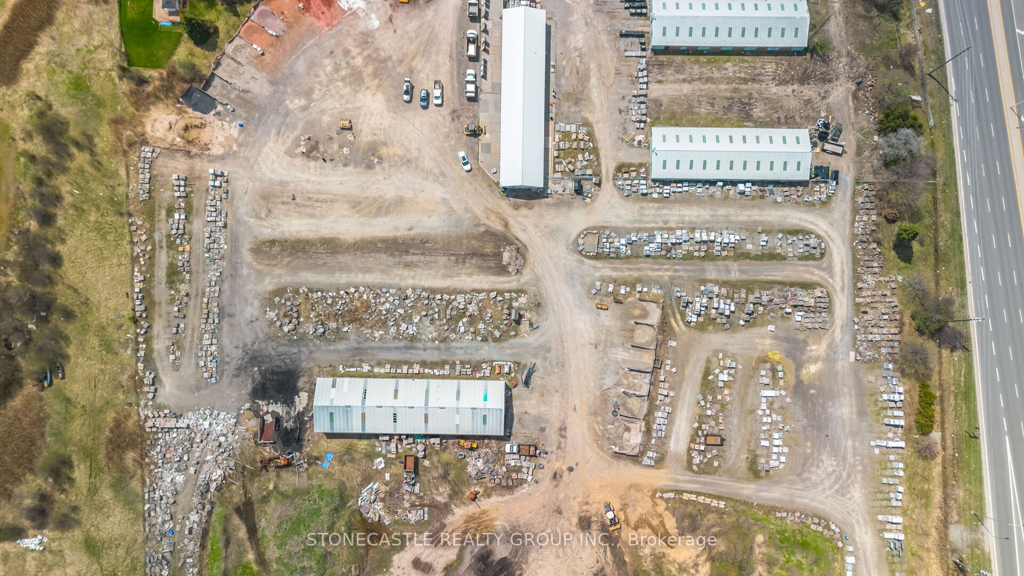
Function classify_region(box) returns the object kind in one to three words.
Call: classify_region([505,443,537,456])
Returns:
vehicle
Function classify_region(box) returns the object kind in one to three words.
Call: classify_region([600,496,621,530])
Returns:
work vehicle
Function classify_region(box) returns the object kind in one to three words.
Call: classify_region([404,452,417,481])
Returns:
vehicle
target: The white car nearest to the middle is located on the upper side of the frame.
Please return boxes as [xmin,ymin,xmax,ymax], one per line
[457,151,472,174]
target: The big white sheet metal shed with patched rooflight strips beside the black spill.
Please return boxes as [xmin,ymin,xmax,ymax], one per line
[314,377,504,436]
